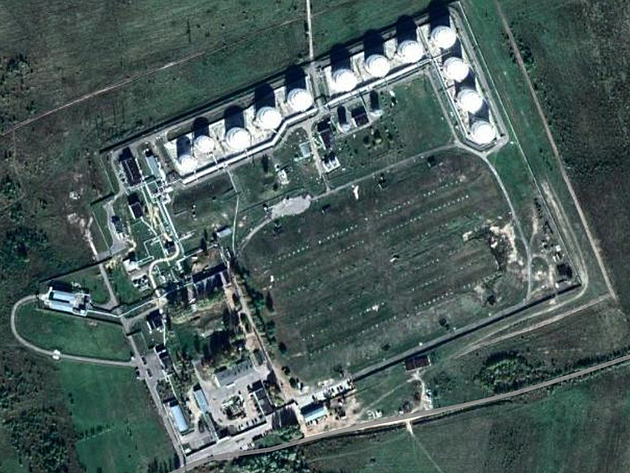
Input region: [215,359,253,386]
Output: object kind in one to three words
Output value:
building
